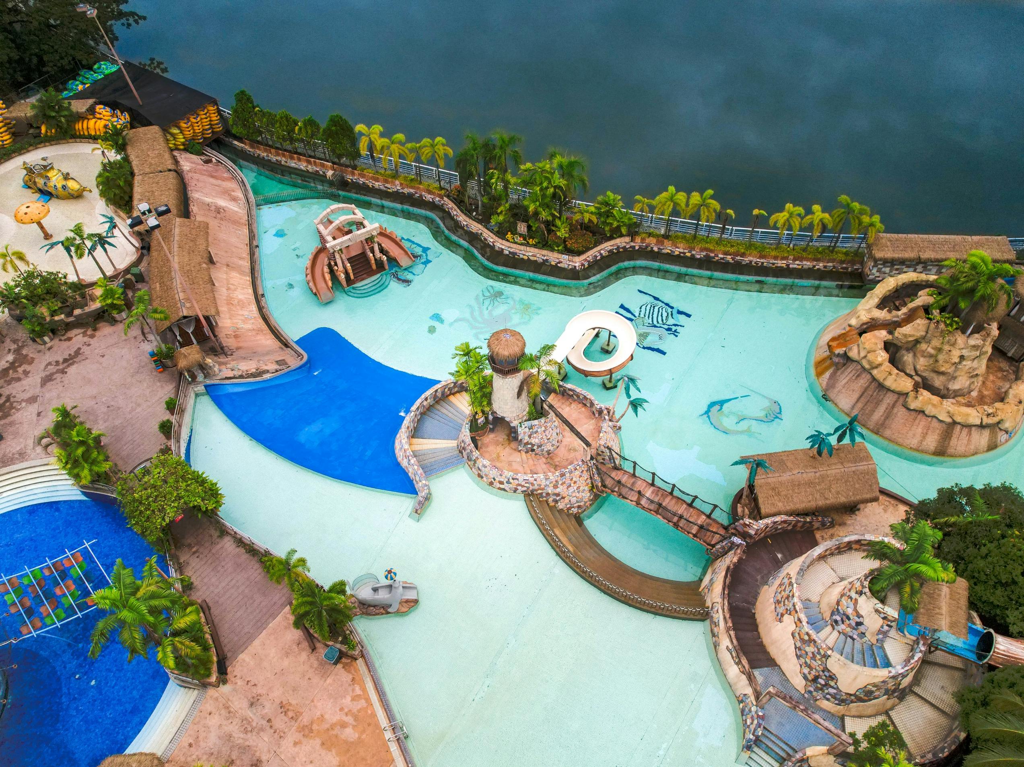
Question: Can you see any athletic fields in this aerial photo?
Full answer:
No, there's no athletic field here.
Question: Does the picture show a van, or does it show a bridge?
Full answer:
Of the two, only a bridge appears.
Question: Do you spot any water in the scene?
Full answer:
Yes, water can be seen from above here.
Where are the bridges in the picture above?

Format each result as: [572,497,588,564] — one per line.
[594,447,737,548]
